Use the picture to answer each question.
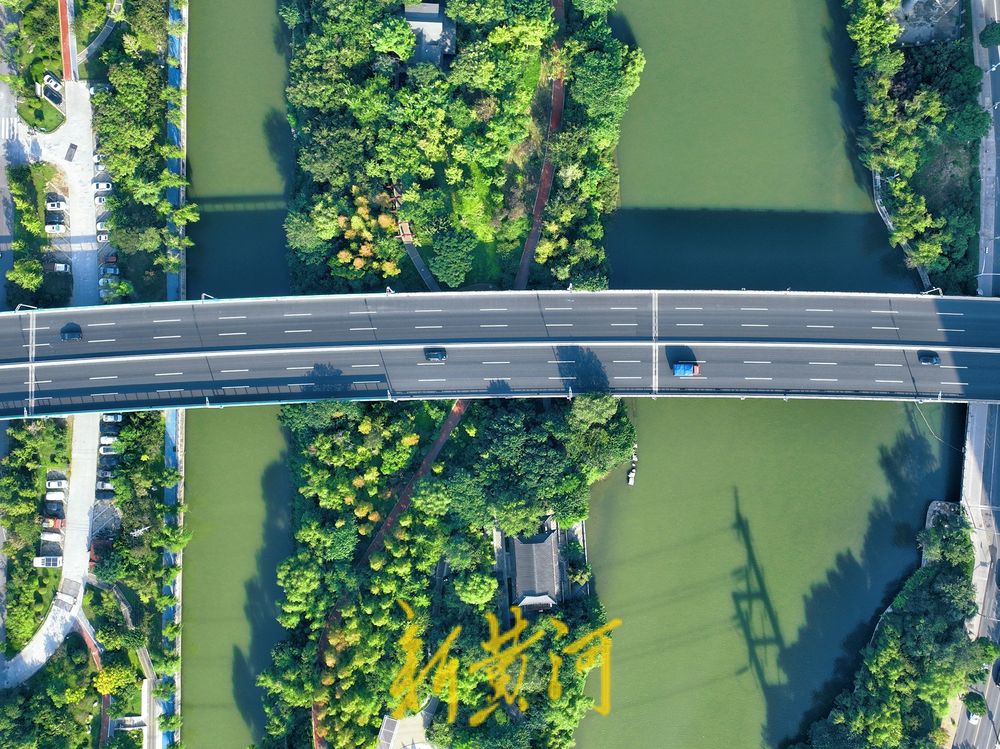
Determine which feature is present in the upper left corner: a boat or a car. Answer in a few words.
car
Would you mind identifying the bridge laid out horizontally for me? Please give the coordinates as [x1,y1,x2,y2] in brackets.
[0,291,1000,420]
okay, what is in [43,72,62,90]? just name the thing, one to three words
car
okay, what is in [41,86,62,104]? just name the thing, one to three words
car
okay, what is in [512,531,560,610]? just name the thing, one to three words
building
